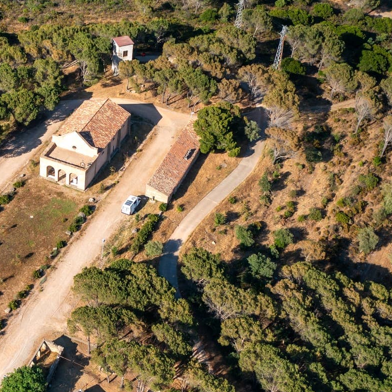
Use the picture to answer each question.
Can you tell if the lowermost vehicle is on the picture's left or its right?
left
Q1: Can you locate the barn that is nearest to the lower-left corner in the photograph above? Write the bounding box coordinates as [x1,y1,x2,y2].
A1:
[27,339,65,383]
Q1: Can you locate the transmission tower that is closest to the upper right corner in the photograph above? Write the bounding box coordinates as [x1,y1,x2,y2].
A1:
[271,26,289,69]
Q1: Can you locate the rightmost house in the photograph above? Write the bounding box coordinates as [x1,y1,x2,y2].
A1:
[146,119,204,203]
